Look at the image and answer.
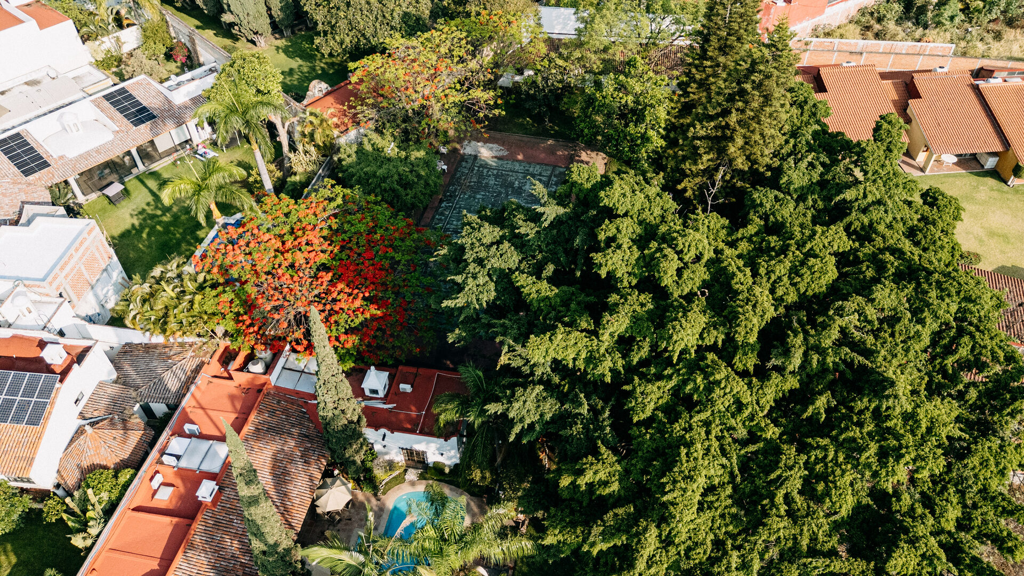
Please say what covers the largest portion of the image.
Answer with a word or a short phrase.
trees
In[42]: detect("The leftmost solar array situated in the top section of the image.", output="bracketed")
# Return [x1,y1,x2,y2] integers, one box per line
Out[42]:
[0,130,50,174]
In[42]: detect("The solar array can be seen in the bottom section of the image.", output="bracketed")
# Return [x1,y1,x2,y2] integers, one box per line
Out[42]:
[0,370,56,424]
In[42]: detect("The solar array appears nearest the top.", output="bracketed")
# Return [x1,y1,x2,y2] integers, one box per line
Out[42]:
[102,85,157,124]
